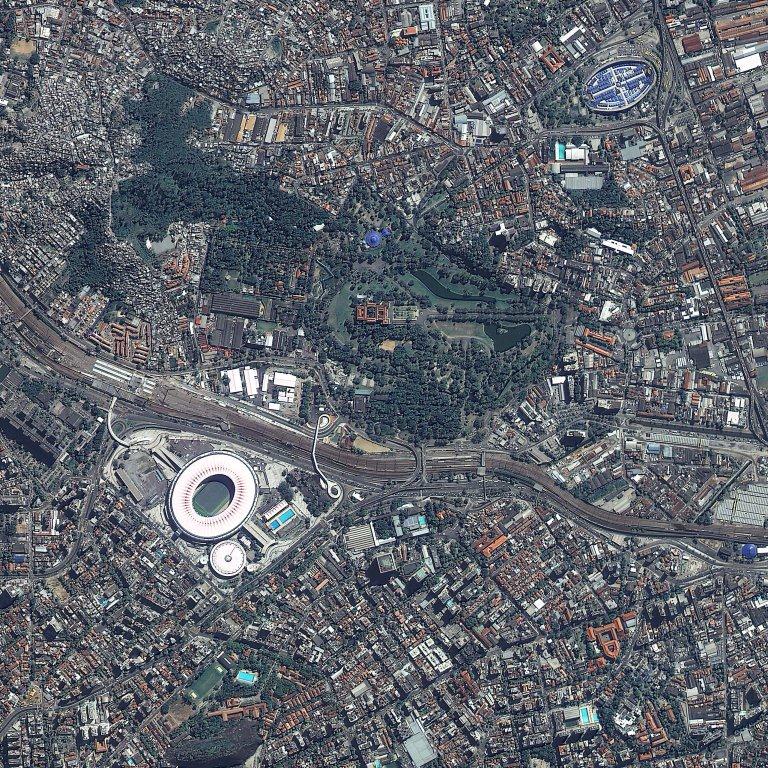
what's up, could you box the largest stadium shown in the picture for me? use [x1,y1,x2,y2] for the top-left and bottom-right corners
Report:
[154,443,270,544]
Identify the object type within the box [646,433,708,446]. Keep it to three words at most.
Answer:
shed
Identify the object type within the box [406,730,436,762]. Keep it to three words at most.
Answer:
building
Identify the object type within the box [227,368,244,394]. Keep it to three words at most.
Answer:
building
